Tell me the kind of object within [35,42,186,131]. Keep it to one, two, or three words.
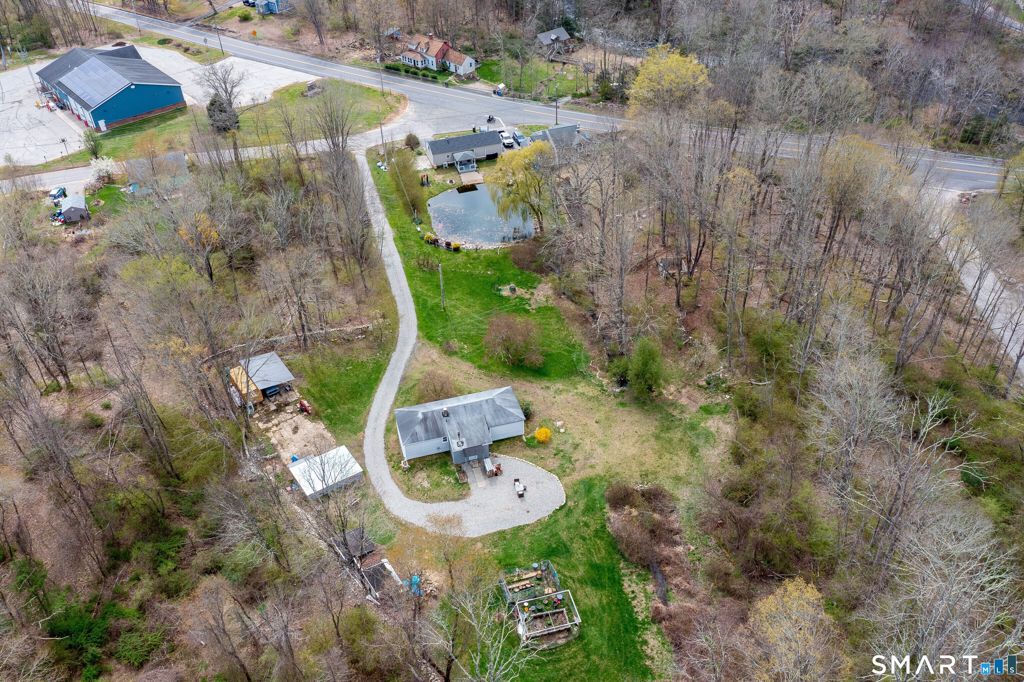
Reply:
building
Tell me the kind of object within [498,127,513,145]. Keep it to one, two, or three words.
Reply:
vehicle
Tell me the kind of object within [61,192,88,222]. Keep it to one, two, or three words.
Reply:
shed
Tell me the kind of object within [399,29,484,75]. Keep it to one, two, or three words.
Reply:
house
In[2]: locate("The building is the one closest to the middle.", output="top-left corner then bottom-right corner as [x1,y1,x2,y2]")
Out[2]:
[394,384,528,471]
